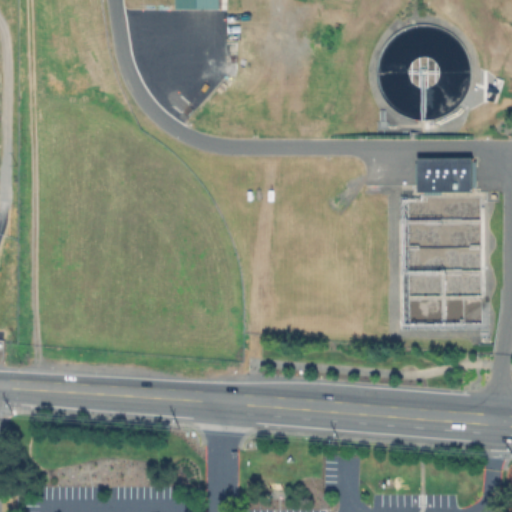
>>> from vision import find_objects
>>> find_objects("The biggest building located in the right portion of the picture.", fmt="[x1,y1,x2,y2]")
[416,158,476,194]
